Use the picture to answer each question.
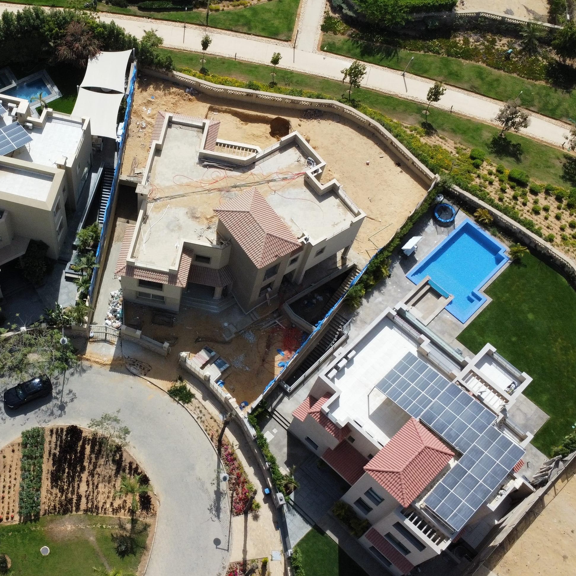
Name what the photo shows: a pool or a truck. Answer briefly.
pool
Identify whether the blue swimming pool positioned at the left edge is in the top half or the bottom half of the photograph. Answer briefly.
top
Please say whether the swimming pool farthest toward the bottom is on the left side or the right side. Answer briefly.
right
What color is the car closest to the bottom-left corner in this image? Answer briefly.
black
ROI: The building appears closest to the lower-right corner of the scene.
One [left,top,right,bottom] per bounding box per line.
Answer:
[285,305,533,576]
